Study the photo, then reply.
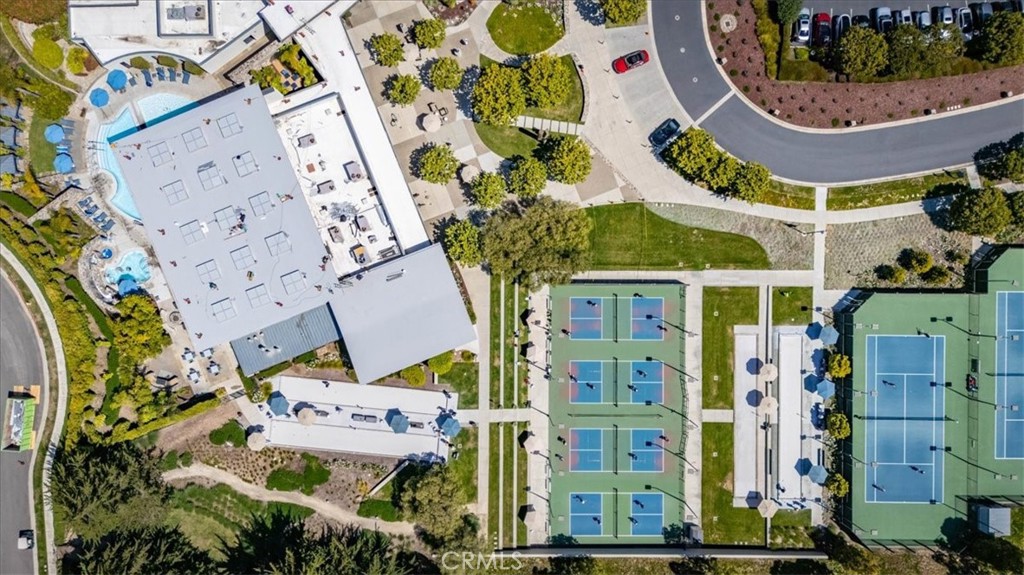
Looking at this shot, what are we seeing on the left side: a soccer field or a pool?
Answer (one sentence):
It is a pool that can be seen on the left side.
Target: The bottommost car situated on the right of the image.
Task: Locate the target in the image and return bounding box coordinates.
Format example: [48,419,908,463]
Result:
[647,117,682,145]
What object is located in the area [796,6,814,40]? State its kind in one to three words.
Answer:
car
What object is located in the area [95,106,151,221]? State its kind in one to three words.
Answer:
swimming pool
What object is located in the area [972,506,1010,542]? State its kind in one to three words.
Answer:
shed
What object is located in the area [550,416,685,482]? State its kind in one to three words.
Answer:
sports court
